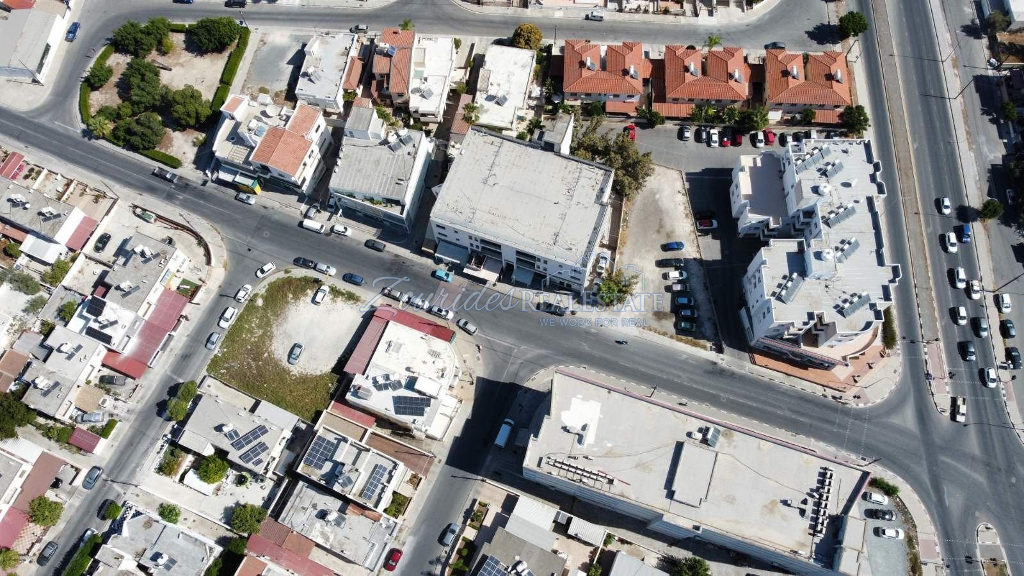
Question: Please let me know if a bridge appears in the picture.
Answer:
No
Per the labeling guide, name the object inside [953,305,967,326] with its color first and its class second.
white car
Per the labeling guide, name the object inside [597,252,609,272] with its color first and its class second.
white vehicle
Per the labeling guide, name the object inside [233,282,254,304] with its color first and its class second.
white car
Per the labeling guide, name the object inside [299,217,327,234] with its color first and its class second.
white vehicle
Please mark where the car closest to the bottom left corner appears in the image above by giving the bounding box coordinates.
[35,538,60,569]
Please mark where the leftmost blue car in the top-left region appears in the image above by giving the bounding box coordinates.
[67,25,79,39]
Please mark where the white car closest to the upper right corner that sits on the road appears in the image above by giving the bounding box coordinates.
[939,196,953,216]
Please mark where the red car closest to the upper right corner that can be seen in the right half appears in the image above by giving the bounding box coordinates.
[763,126,775,148]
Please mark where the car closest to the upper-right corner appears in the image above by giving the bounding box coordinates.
[1003,187,1017,206]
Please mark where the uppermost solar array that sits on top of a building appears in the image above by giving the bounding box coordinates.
[86,295,107,316]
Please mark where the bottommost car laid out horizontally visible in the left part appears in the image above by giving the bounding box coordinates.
[75,411,103,424]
